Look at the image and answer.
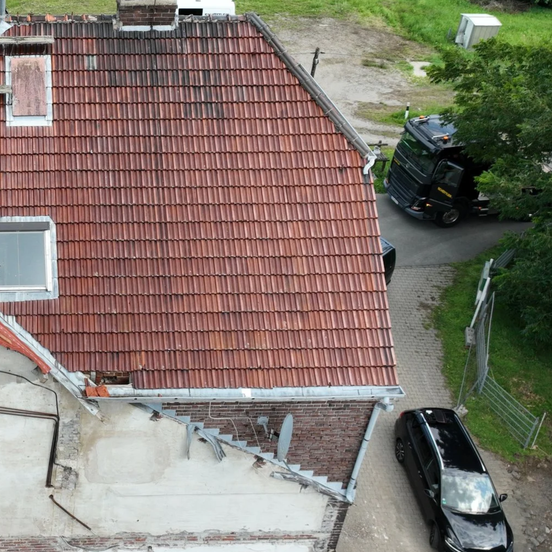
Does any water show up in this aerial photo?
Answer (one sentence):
No, the picture contains no water.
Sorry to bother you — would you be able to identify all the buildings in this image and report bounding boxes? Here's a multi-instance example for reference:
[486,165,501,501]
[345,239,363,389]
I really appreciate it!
[455,16,503,49]
[0,0,410,552]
